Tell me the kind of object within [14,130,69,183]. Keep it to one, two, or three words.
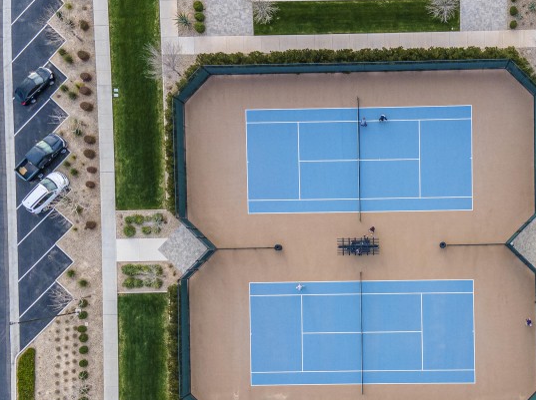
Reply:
truck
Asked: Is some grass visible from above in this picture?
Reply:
Yes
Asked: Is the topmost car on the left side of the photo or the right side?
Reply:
left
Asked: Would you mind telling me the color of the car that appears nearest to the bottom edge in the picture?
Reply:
white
